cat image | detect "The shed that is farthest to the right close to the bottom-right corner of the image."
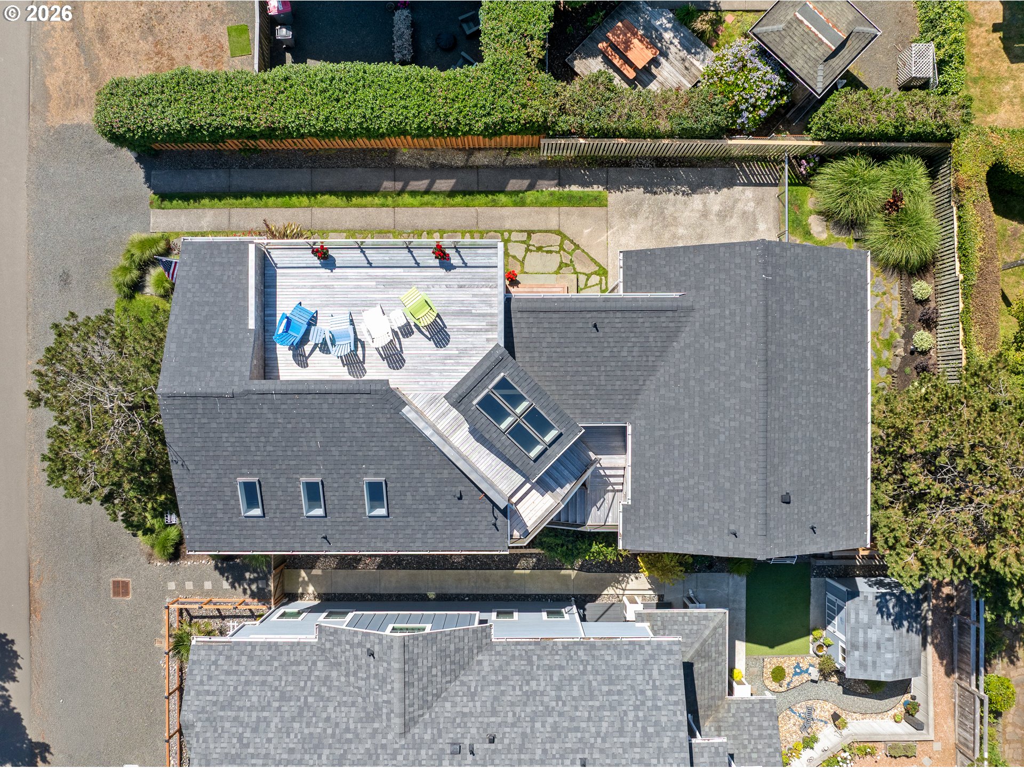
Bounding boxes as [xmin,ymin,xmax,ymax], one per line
[824,578,922,688]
